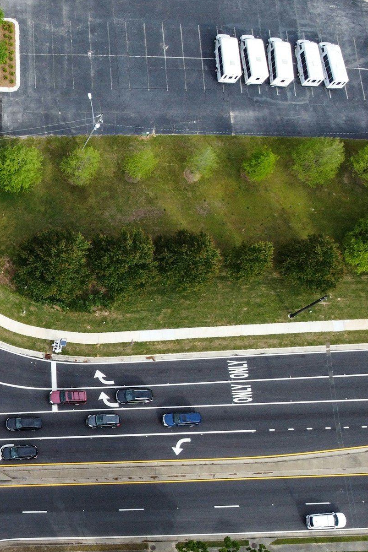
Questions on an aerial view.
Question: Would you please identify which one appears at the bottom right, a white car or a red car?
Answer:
white car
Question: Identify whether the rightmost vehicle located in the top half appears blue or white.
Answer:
white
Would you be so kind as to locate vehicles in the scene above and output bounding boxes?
[266,39,295,87]
[214,36,242,84]
[304,511,347,530]
[294,39,327,88]
[86,410,121,428]
[162,409,202,428]
[1,442,38,461]
[115,387,154,405]
[49,388,87,406]
[240,37,270,85]
[321,41,352,91]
